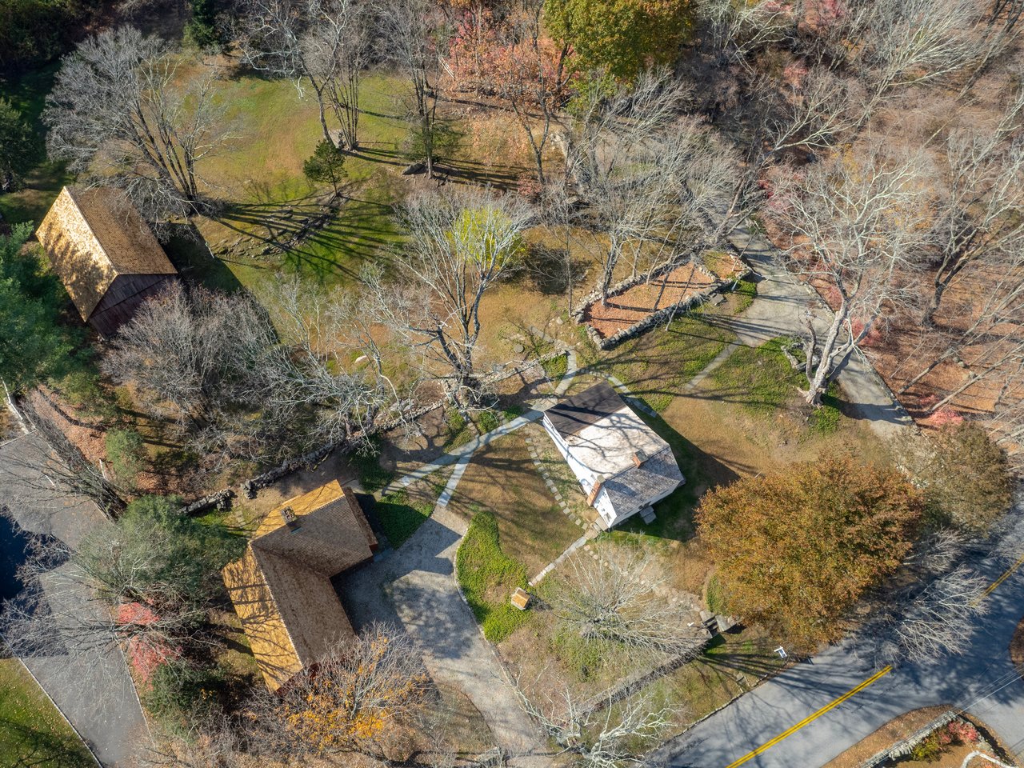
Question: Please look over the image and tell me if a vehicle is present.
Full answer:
No, I can't see a single vehicle in this photo.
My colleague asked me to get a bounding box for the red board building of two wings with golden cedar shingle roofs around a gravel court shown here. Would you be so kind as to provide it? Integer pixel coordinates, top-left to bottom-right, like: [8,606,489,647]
[224,480,381,692]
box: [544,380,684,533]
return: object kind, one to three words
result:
house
